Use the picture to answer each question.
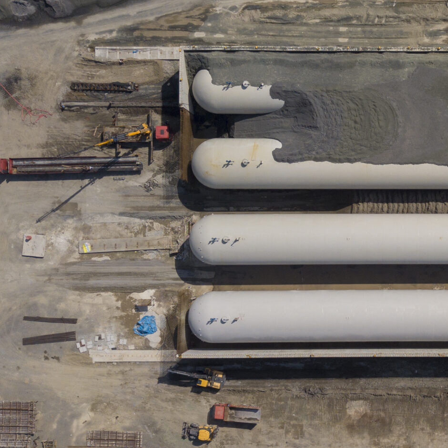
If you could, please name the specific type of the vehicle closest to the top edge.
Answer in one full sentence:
It turns out the vehicle closest to the top edge is a truck.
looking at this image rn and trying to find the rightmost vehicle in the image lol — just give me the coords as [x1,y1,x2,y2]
[212,402,262,425]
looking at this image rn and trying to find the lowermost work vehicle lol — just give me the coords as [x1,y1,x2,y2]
[179,423,220,441]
